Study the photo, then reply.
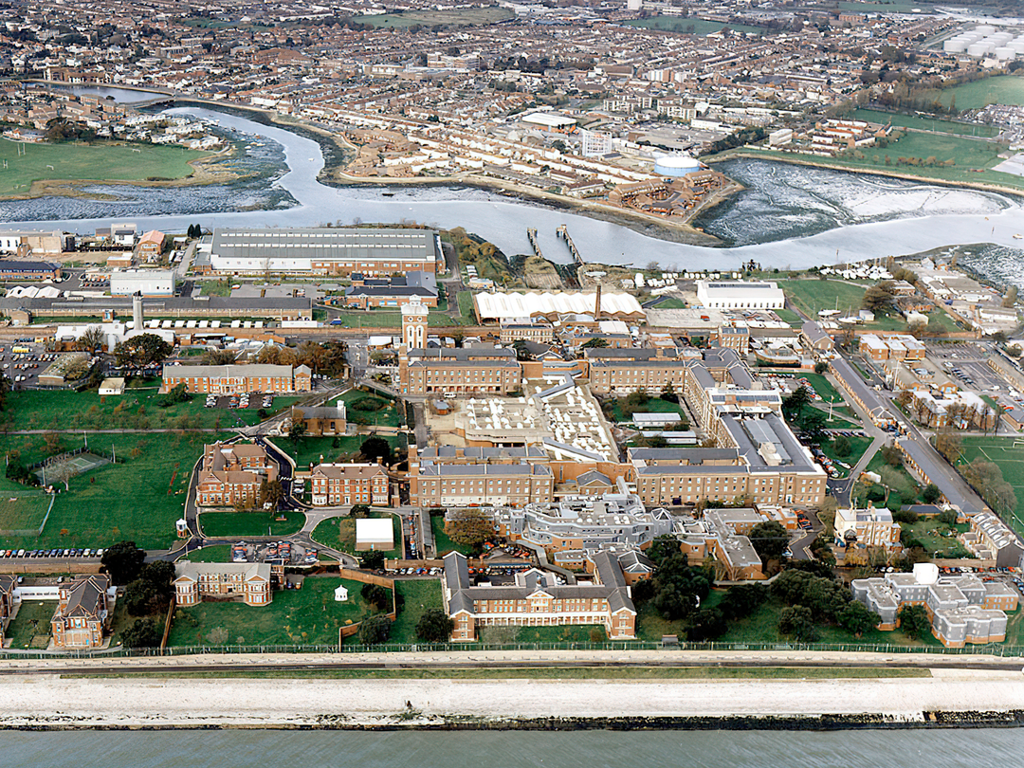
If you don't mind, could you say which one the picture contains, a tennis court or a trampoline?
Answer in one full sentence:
I can see a tennis court in this picture.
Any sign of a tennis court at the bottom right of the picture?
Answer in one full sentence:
No, there is no tennis court at the bottom right of the picture.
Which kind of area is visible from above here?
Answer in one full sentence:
This image shows a residential area.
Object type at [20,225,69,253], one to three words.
shed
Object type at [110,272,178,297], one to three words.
building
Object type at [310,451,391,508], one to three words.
house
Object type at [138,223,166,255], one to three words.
building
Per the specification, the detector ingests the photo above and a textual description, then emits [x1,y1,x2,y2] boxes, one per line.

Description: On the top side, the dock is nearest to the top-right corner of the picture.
[552,219,585,265]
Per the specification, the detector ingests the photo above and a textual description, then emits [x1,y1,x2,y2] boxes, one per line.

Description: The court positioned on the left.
[39,452,111,489]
